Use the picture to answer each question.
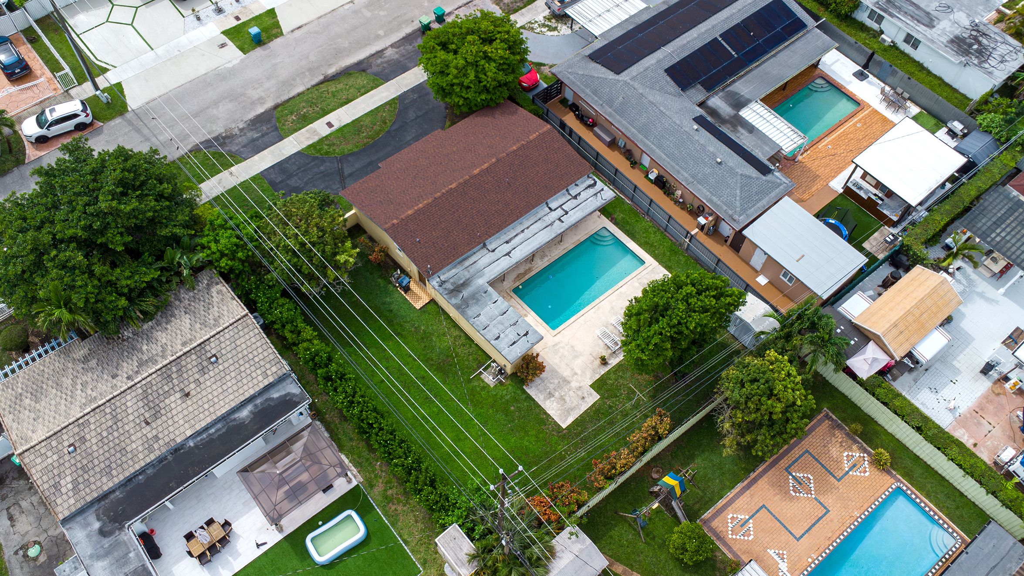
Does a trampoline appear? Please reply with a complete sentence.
Yes, I can see a trampoline in this picture.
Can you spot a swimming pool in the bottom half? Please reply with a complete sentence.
Yes, a swimming pool can be seen in the bottom half.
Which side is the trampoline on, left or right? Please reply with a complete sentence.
It is on the right.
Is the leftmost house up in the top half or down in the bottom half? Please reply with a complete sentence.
The leftmost house sits in the bottom half of the picture.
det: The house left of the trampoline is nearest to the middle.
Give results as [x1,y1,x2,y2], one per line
[336,96,617,378]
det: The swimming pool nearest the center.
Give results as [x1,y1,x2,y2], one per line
[507,221,651,335]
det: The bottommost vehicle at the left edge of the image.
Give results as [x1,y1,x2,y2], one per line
[23,102,92,144]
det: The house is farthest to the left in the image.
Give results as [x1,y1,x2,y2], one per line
[0,264,314,576]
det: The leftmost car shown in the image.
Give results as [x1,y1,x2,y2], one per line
[0,35,29,78]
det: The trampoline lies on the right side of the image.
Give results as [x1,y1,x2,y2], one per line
[820,206,863,246]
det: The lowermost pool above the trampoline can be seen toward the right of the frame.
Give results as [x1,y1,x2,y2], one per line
[751,72,865,160]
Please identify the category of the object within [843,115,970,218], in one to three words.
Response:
building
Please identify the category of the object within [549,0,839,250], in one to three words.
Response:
house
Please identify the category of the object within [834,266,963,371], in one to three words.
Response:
building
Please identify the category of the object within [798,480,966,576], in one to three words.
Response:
swimming pool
